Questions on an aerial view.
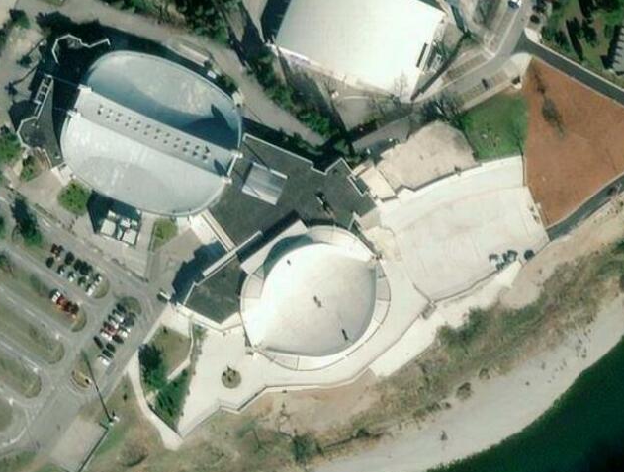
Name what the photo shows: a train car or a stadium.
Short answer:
stadium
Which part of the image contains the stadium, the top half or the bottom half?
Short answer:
top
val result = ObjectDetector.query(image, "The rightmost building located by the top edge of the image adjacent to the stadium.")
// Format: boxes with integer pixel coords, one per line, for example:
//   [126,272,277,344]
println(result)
[275,0,447,101]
